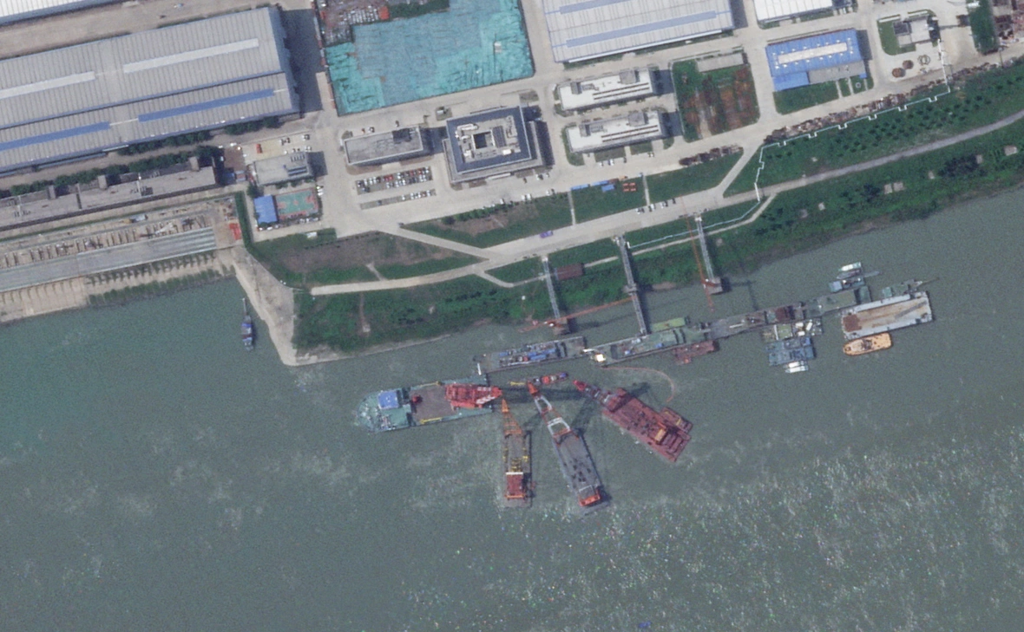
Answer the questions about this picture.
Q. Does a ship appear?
Yes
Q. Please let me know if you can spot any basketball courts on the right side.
No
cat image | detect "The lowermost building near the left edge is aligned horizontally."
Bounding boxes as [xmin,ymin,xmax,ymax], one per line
[0,156,224,231]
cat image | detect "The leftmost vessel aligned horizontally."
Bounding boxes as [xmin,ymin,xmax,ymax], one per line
[357,374,502,432]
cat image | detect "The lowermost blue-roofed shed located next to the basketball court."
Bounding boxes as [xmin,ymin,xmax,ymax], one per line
[254,195,281,226]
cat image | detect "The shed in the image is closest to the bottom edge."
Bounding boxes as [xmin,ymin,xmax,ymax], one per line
[555,263,586,280]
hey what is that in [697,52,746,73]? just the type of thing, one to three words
shed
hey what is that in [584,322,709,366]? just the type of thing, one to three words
pier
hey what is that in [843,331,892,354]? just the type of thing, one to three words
boat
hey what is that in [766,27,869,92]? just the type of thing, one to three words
building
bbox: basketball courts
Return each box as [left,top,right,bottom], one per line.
[277,187,318,219]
